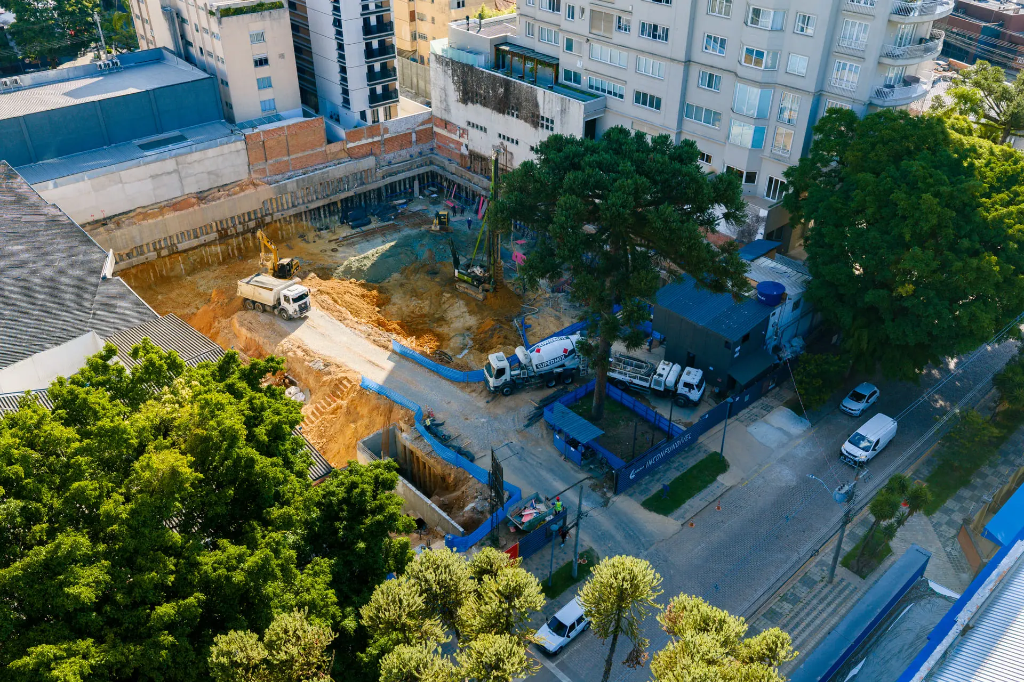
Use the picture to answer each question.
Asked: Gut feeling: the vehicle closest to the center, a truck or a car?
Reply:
truck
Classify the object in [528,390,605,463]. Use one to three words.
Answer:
shed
